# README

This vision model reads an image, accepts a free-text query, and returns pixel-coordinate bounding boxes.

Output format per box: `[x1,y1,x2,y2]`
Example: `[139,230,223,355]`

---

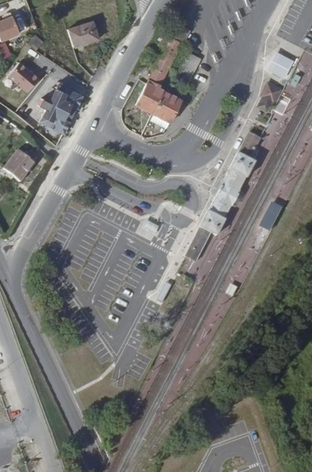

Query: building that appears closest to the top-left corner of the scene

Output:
[0,16,20,42]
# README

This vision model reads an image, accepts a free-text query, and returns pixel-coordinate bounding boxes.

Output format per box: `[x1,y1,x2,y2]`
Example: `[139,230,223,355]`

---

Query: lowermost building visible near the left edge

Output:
[4,148,34,181]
